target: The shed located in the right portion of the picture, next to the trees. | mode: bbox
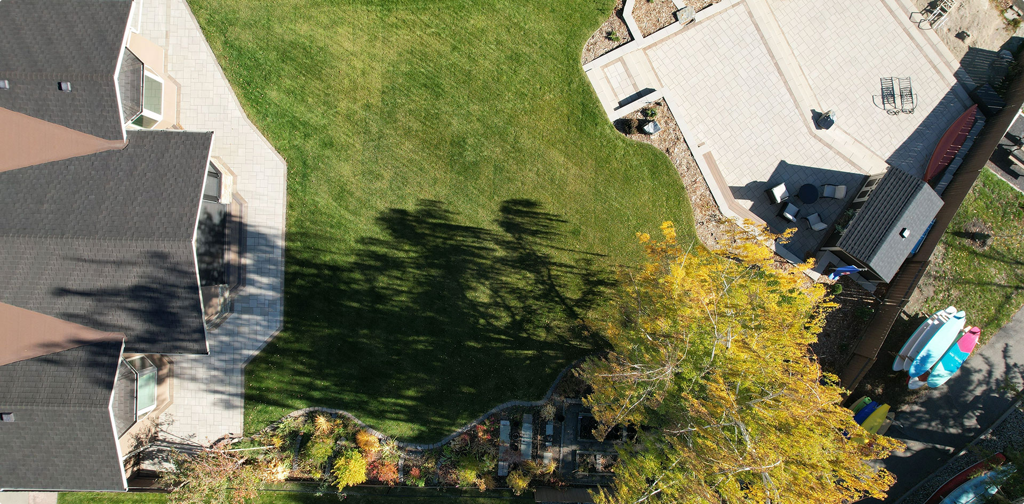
[818,165,945,283]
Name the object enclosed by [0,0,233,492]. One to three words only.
house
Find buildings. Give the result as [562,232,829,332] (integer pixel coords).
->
[0,0,233,492]
[818,165,945,283]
